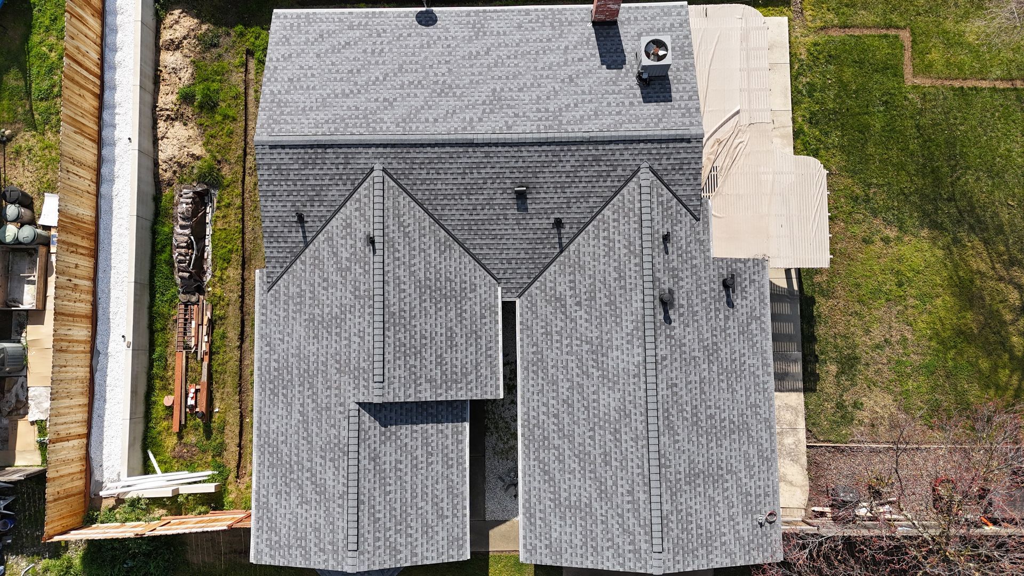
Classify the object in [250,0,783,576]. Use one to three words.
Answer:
house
